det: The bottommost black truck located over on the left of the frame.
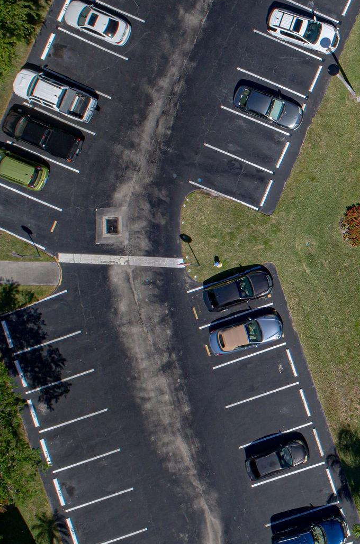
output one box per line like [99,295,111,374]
[2,108,86,162]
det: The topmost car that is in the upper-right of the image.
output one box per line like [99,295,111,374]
[267,6,341,57]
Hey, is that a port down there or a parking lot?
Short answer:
parking lot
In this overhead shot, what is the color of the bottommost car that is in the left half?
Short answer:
green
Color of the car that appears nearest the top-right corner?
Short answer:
white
